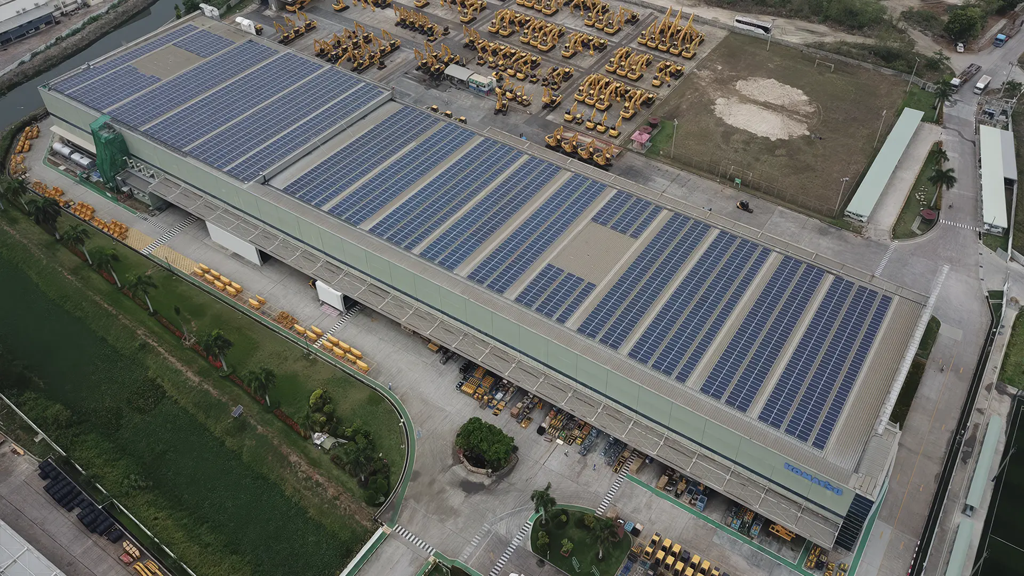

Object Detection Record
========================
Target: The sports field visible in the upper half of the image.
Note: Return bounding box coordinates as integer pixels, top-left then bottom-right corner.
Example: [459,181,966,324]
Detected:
[619,36,911,228]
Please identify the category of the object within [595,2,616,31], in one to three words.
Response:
work vehicle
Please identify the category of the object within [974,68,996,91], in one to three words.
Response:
truck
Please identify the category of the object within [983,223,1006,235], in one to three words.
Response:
vehicle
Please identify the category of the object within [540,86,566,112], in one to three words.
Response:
work vehicle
